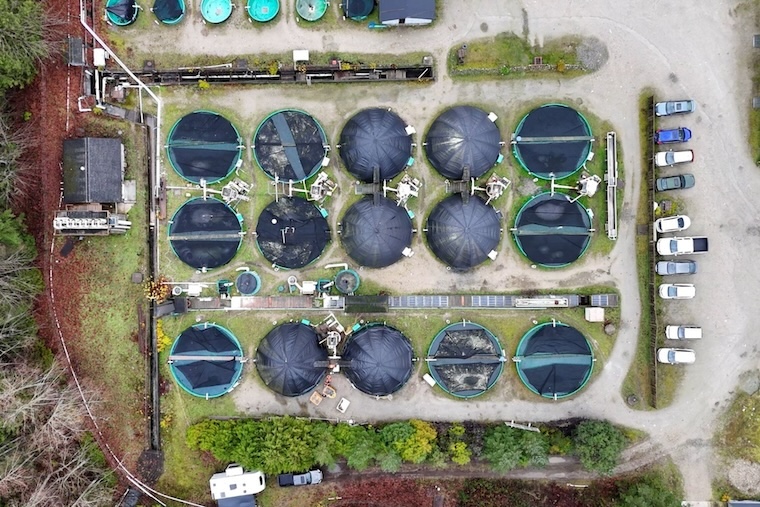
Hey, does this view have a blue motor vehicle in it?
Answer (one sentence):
Yes, the picture does show a blue motor vehicle.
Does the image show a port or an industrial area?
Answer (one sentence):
The picture captures an industrial area.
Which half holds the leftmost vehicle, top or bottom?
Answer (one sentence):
It is in the bottom half that the leftmost vehicle appears.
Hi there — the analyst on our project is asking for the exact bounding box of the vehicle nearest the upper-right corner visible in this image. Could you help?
[653,98,695,117]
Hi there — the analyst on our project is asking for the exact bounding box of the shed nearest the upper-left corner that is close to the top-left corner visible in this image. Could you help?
[65,34,85,66]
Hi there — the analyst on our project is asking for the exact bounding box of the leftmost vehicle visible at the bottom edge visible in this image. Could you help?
[211,462,275,507]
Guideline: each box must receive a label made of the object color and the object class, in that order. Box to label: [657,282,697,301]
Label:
white car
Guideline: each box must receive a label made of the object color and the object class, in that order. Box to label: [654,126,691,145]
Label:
blue car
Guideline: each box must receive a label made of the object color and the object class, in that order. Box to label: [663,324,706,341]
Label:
white car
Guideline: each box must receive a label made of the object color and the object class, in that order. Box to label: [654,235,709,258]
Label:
white truck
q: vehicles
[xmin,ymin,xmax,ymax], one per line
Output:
[654,259,698,277]
[653,214,690,233]
[654,126,691,145]
[278,467,324,489]
[654,235,709,258]
[663,324,706,341]
[657,282,697,301]
[653,98,695,117]
[655,172,695,192]
[656,347,697,366]
[654,148,695,168]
